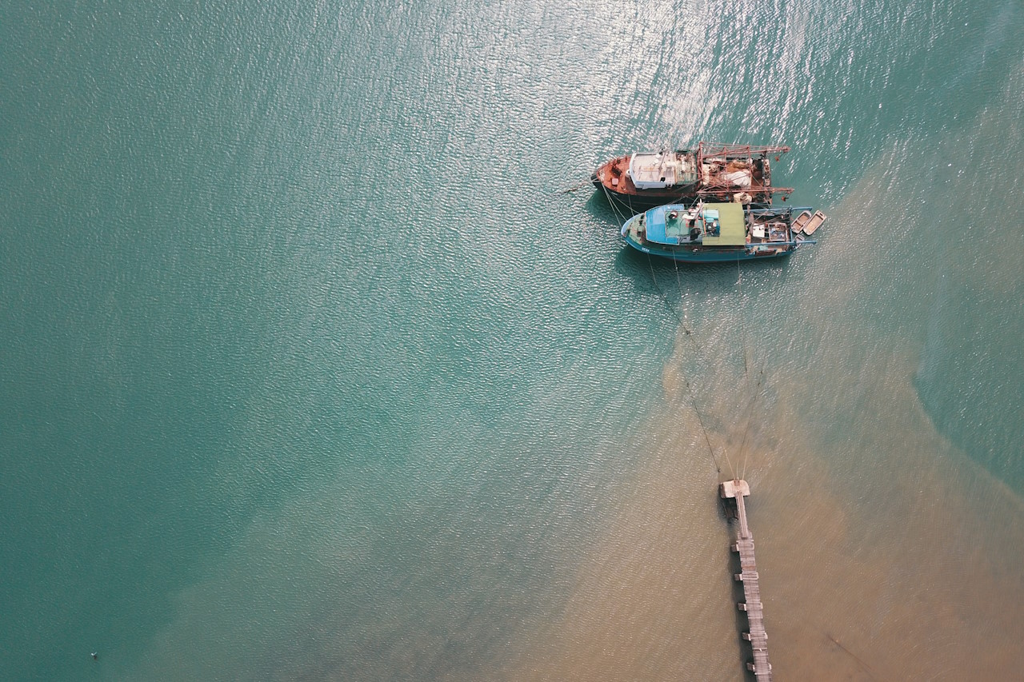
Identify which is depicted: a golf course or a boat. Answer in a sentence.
The image shows a boat.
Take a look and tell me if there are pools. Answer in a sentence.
No, the frame has no pool in it.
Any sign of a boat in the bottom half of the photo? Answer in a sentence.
No, looking in the bottom half of the photo, there is no boat.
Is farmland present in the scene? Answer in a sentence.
No, there's no farmland in this view.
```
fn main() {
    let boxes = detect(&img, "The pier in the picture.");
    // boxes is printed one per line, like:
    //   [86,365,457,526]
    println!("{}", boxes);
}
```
[731,533,774,682]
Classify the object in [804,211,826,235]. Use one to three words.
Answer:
boat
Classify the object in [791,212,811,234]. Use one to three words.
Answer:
boat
